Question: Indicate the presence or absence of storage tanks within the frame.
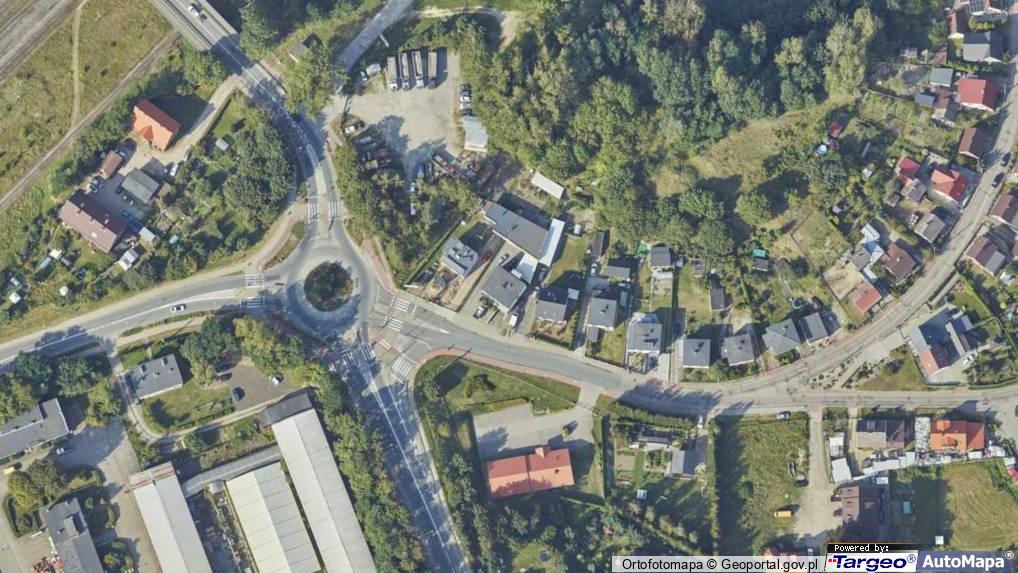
No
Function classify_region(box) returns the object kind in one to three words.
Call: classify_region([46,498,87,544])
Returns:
building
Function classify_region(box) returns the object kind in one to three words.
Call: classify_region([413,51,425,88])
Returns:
vehicle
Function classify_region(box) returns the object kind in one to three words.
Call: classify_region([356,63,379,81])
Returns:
vehicle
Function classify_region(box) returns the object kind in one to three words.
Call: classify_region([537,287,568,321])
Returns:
house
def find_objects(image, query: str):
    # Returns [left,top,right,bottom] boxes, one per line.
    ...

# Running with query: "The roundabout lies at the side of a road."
[275,233,382,339]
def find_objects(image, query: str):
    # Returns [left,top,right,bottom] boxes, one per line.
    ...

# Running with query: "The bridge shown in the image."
[149,0,243,59]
